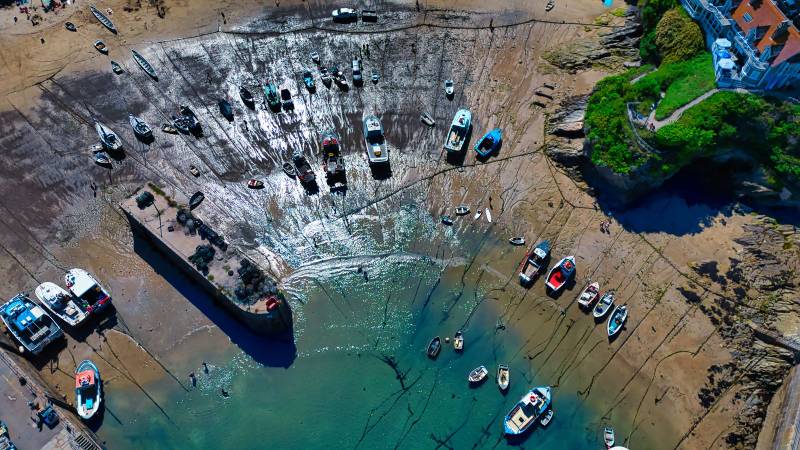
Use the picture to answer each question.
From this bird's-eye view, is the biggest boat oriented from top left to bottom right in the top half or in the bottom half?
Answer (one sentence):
The biggest boat oriented from top left to bottom right sits in the bottom half of the picture.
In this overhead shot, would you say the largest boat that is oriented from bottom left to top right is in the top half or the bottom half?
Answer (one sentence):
You can find the largest boat that is oriented from bottom left to top right in the bottom half.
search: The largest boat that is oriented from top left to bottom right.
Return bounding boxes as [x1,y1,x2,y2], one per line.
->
[1,293,62,360]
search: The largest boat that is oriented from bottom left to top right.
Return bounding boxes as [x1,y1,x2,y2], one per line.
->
[501,388,550,440]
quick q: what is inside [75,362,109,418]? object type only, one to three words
boat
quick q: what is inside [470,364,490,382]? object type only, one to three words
boat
